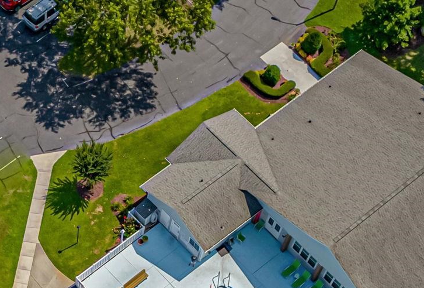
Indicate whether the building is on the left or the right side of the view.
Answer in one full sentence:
You can find the building on the right side of the picture.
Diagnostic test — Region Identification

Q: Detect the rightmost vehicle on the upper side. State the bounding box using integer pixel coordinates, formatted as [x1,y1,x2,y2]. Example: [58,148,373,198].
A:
[25,0,71,33]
